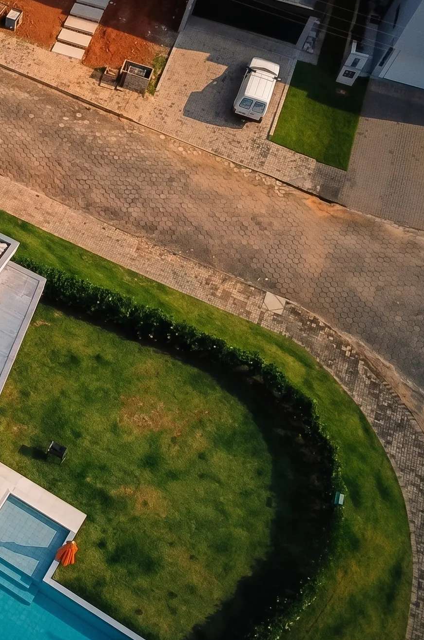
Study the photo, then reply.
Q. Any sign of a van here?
Yes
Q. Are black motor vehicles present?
No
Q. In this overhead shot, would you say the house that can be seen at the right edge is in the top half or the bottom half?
top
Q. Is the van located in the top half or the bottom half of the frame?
top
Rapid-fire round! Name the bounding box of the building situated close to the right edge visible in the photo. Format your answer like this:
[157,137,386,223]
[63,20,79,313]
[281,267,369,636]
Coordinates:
[371,0,424,90]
